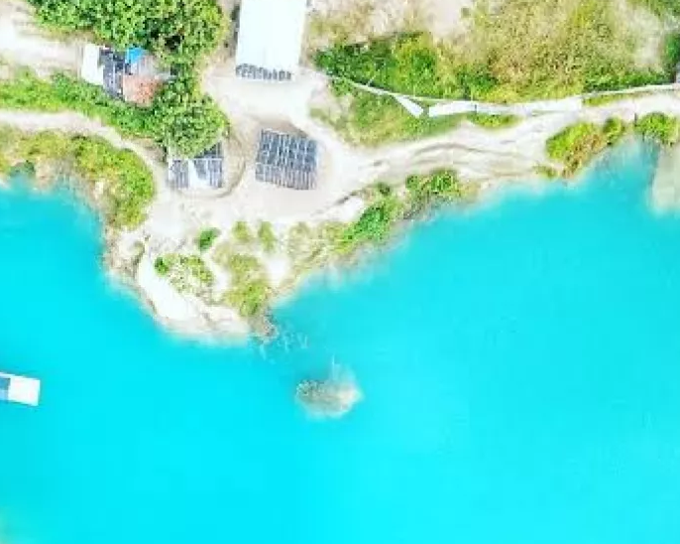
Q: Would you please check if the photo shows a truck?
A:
No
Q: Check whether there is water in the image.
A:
Yes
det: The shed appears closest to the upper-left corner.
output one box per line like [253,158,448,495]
[81,45,103,87]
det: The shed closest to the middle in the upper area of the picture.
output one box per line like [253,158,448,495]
[255,129,318,189]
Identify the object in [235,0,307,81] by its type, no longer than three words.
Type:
building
